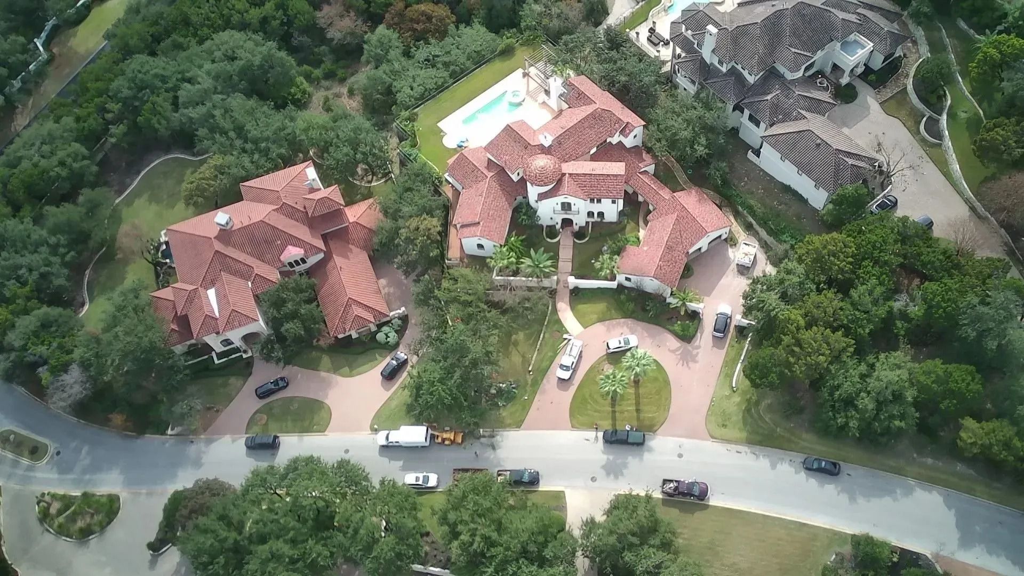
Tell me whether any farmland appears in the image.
No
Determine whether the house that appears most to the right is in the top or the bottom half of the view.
top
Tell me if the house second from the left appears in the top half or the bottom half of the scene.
top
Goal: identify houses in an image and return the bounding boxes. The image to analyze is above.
[448,74,733,297]
[149,160,391,354]
[670,0,911,212]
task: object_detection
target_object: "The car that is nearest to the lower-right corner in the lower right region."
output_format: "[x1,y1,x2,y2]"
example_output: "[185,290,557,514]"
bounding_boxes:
[802,457,841,477]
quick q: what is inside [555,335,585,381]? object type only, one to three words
truck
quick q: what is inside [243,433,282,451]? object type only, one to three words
car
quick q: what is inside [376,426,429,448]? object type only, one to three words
truck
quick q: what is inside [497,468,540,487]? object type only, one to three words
vehicle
